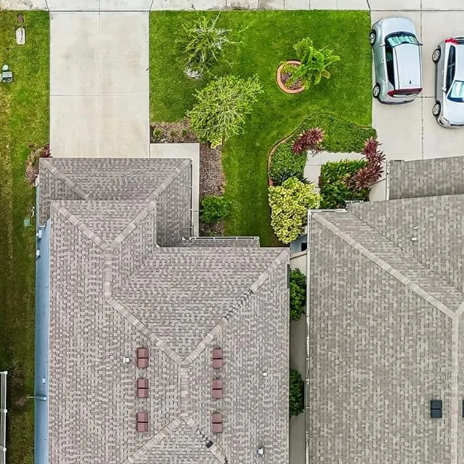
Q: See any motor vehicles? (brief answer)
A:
Yes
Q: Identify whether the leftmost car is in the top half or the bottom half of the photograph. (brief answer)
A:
top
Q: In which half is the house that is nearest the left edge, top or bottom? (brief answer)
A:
bottom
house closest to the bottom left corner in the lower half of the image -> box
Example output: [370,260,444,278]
[29,157,289,464]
